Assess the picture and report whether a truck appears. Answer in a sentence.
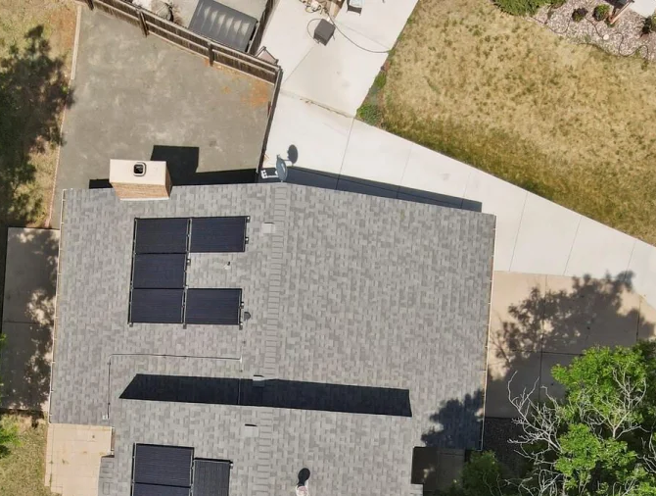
No, the photo shows no truck.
